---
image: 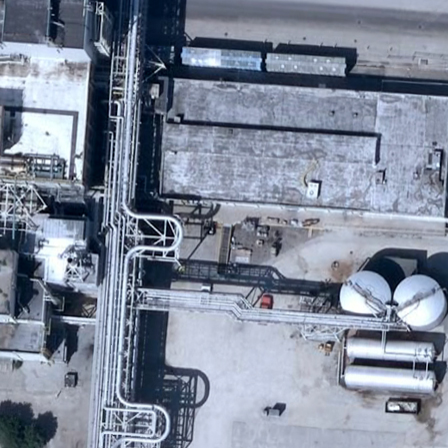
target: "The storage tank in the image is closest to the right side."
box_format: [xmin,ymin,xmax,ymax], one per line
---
[395,278,446,333]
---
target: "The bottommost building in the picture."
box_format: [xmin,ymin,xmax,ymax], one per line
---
[0,319,53,362]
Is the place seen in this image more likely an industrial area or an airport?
industrial area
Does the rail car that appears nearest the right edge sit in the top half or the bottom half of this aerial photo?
top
